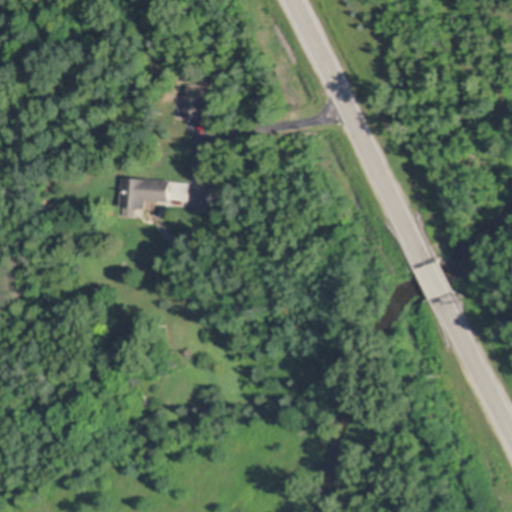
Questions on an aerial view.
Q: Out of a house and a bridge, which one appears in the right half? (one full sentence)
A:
You can see a bridge in the right half.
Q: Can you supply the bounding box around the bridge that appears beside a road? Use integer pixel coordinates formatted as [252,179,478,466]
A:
[410,248,458,314]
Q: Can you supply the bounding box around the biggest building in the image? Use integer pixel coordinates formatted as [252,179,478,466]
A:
[120,180,166,224]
